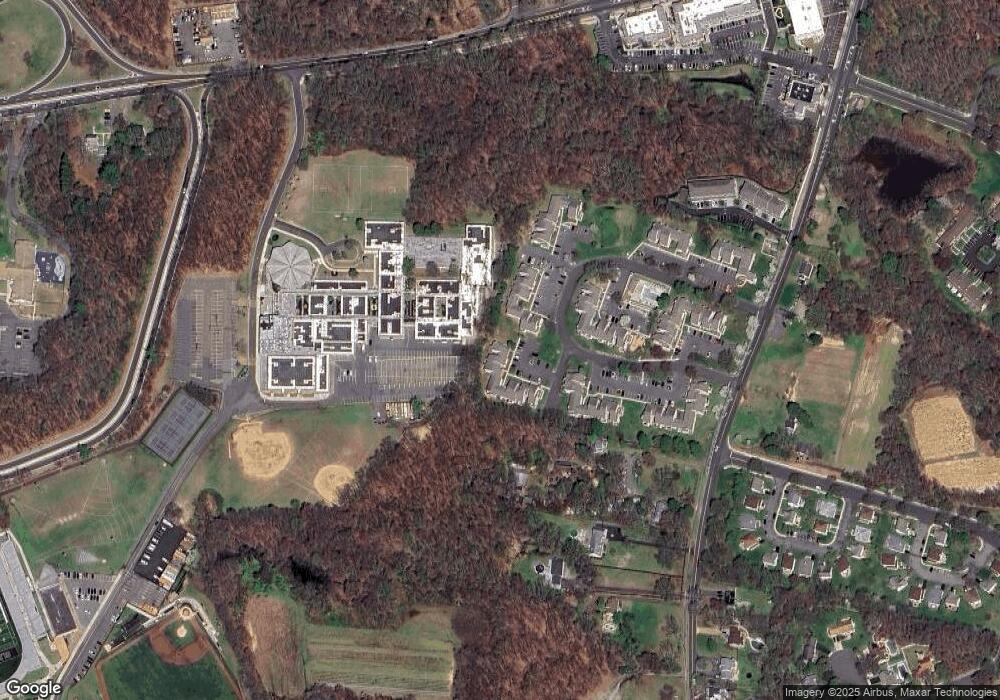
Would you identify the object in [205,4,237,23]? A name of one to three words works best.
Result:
building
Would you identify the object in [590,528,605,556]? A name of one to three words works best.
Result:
house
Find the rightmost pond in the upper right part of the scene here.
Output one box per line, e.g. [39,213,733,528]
[861,142,946,201]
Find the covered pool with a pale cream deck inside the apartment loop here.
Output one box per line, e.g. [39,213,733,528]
[633,279,668,308]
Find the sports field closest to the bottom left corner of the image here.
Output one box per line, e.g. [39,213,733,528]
[0,592,21,682]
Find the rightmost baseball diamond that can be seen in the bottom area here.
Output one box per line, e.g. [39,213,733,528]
[314,465,355,507]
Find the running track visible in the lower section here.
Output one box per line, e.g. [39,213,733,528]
[0,547,44,695]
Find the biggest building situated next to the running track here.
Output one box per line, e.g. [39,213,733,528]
[41,585,78,638]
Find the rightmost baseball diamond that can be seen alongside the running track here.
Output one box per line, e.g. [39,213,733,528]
[96,605,247,700]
